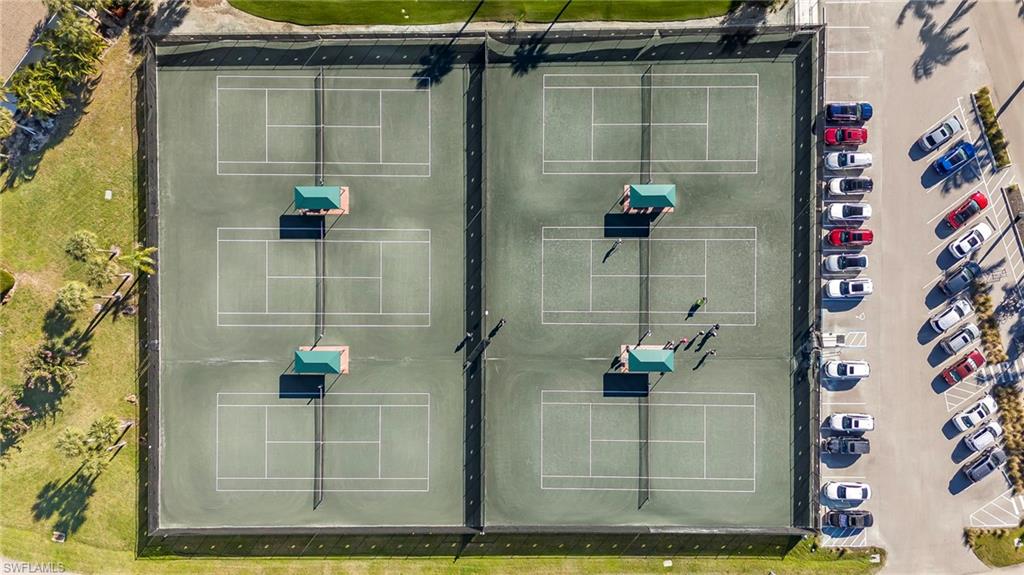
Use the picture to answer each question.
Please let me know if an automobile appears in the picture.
Yes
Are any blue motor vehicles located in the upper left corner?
No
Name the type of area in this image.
sports ground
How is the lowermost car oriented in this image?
from left to right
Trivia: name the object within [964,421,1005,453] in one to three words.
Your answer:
car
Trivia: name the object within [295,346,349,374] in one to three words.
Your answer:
building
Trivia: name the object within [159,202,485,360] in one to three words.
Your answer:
tennis court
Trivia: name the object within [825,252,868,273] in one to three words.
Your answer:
car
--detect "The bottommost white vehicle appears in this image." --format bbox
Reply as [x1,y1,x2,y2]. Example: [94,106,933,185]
[826,482,870,502]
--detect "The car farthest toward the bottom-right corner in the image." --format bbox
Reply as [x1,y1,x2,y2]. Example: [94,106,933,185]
[964,448,1008,482]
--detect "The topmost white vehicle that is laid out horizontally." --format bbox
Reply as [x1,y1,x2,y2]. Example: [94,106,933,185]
[825,150,871,170]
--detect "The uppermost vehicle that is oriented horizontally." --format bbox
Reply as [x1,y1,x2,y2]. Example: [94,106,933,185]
[825,101,872,122]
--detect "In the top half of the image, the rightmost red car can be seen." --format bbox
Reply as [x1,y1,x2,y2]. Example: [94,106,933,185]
[946,194,989,229]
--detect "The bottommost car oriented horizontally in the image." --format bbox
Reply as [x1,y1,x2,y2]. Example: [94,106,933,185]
[824,509,872,531]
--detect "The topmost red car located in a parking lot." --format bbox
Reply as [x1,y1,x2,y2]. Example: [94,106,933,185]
[825,127,868,147]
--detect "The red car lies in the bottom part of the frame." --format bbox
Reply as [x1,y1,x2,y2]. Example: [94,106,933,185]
[943,351,987,386]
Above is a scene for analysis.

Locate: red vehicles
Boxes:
[946,194,989,229]
[943,351,987,386]
[828,227,873,247]
[825,127,868,147]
